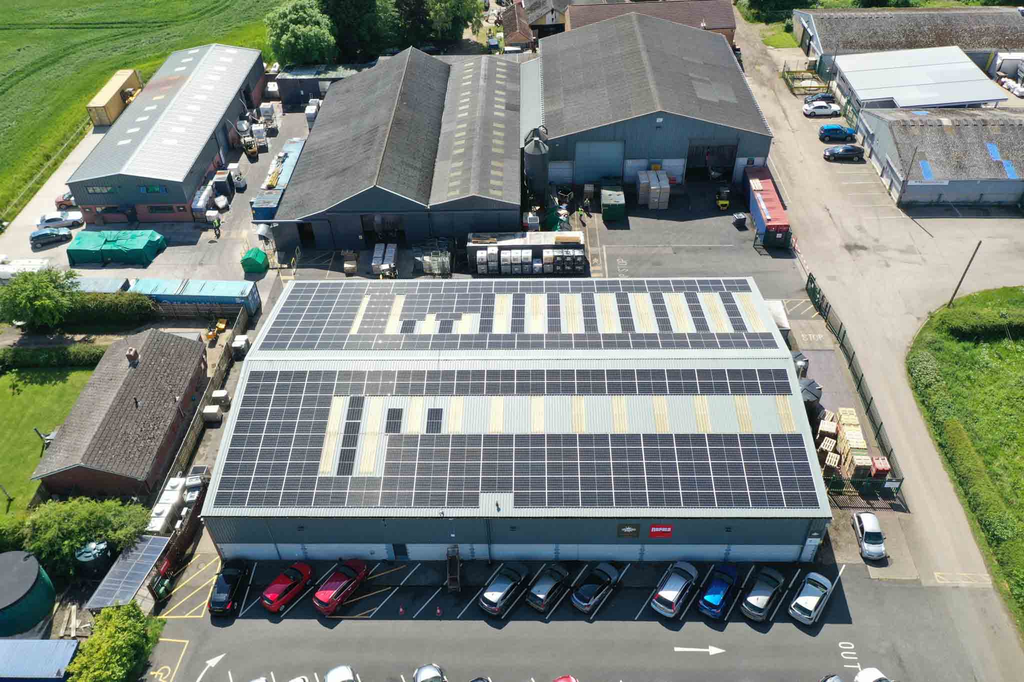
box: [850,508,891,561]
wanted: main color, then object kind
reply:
white car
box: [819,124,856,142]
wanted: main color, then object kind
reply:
blue car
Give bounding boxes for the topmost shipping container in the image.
[88,69,146,123]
